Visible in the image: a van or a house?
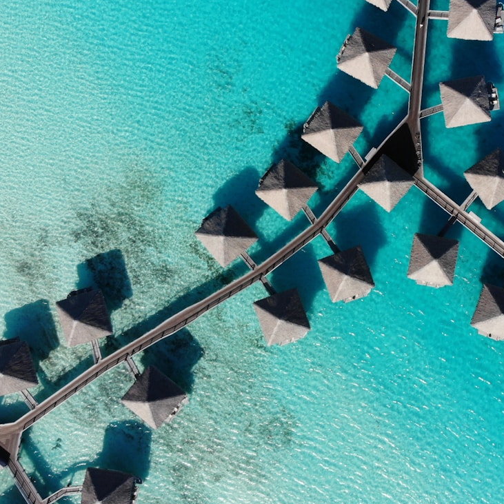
house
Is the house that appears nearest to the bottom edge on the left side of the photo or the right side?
left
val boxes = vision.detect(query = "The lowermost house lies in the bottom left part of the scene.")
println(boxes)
[81,467,142,504]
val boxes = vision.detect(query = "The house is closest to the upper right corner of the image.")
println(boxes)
[447,0,504,42]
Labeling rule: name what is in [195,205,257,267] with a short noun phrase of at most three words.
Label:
house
